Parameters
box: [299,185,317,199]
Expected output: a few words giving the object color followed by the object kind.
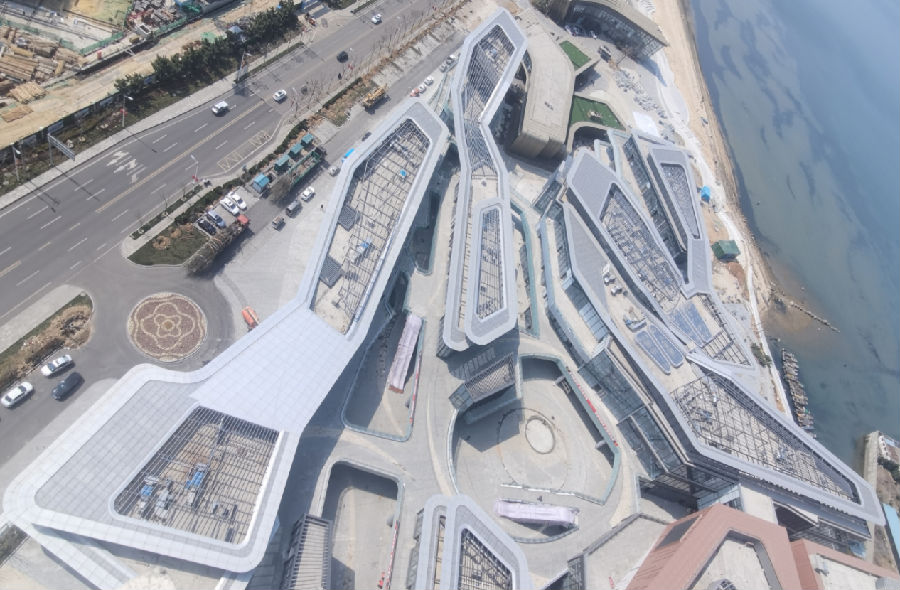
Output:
white car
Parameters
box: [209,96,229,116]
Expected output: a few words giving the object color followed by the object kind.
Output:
white car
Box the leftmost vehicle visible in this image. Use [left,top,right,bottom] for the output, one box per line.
[0,382,36,405]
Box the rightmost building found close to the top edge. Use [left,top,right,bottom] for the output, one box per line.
[561,0,669,62]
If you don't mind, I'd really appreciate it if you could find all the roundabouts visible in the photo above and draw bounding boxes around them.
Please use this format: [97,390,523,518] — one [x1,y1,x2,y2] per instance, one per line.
[127,294,206,361]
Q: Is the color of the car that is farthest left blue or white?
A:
white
